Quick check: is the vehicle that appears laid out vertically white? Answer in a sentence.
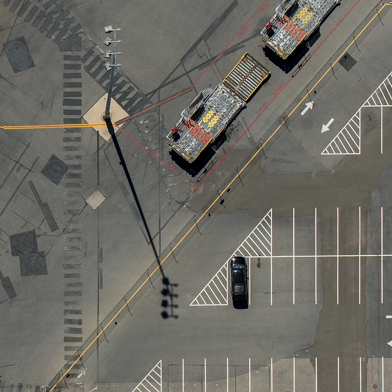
No, the color of the vehicle that appears laid out vertically is black.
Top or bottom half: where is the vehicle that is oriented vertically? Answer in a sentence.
The vehicle that is oriented vertically sits in the bottom half of the picture.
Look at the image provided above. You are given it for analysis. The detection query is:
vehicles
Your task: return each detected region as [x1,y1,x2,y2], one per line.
[167,57,273,165]
[262,0,343,60]
[229,257,249,301]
